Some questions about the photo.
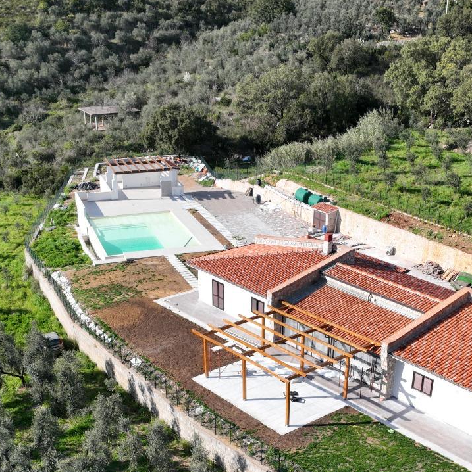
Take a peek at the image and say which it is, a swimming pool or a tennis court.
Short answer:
swimming pool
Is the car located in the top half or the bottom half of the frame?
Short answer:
bottom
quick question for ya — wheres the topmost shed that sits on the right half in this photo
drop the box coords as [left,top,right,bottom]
[313,199,343,232]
